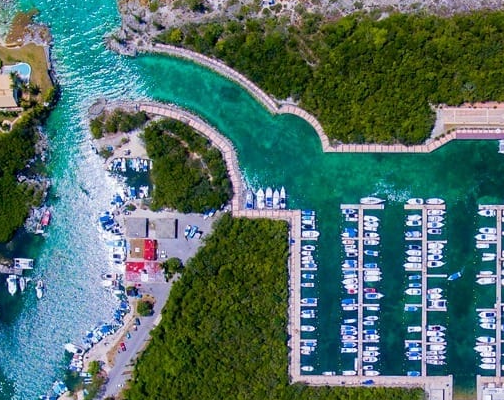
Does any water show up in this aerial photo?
Yes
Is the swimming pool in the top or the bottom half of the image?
top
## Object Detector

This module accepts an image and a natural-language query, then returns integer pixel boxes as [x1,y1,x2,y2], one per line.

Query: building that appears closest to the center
[155,218,177,238]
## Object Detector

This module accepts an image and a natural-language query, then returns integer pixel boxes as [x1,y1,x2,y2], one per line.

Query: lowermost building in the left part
[126,262,163,282]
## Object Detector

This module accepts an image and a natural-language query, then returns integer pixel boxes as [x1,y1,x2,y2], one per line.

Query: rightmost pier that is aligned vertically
[476,204,504,377]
